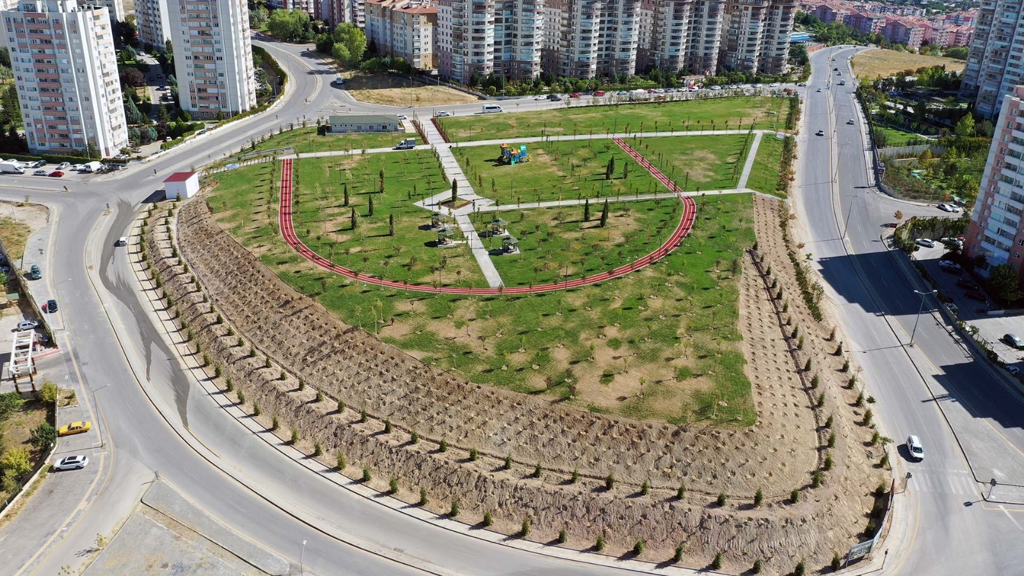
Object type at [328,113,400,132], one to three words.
building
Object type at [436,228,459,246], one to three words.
gazebo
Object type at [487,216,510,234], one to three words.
gazebo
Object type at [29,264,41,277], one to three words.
vehicle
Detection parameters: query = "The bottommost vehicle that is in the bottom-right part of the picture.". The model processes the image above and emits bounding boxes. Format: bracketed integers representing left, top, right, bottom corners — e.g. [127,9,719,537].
[908,434,926,460]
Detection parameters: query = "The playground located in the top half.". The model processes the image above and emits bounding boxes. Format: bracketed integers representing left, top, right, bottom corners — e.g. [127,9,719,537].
[499,142,533,166]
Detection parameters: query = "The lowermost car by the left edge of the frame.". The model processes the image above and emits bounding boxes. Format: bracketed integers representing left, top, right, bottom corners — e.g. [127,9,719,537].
[51,451,88,471]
